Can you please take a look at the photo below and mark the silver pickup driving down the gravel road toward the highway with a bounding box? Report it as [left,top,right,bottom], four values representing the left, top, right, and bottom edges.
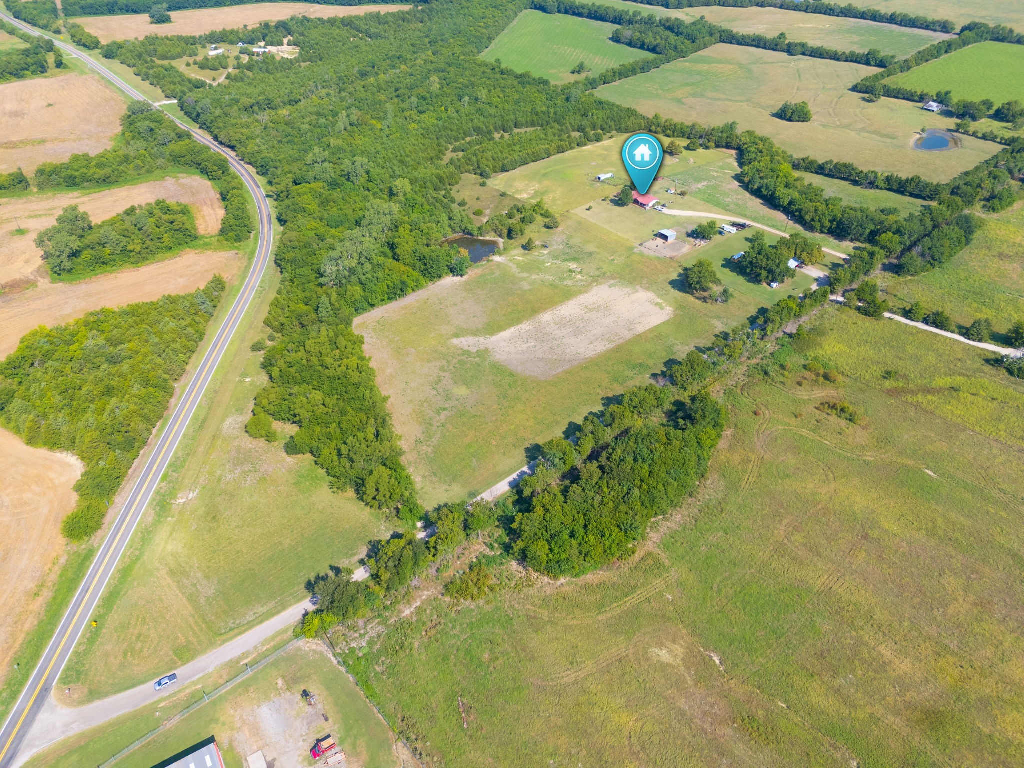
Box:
[155,671,178,688]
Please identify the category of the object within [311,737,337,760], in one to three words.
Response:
truck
